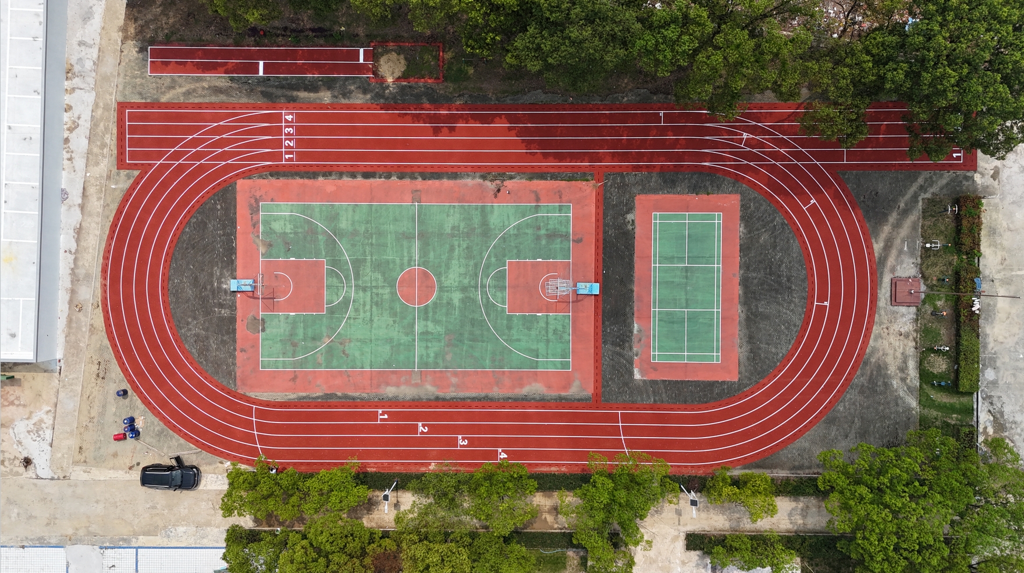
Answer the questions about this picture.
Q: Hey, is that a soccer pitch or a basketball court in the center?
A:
basketball court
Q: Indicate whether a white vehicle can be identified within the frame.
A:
No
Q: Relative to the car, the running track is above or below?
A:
above it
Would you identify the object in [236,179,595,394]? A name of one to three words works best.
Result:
basketball court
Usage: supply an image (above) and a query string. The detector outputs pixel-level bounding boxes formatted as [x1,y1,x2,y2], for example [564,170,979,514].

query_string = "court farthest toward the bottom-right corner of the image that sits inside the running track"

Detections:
[634,194,740,381]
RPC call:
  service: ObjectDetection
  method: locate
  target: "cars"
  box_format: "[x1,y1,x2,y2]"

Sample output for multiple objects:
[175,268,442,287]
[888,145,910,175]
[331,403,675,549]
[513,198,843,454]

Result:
[139,455,202,493]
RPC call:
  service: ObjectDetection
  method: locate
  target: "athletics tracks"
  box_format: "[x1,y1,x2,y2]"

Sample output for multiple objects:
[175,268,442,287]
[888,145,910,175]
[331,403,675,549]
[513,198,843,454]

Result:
[101,102,976,475]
